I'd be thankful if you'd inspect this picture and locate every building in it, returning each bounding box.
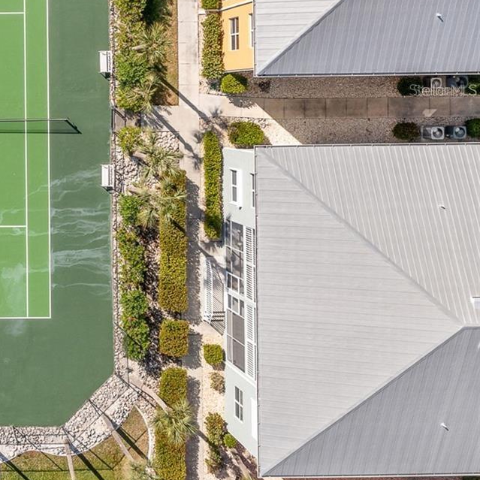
[217,0,480,74]
[195,142,480,475]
